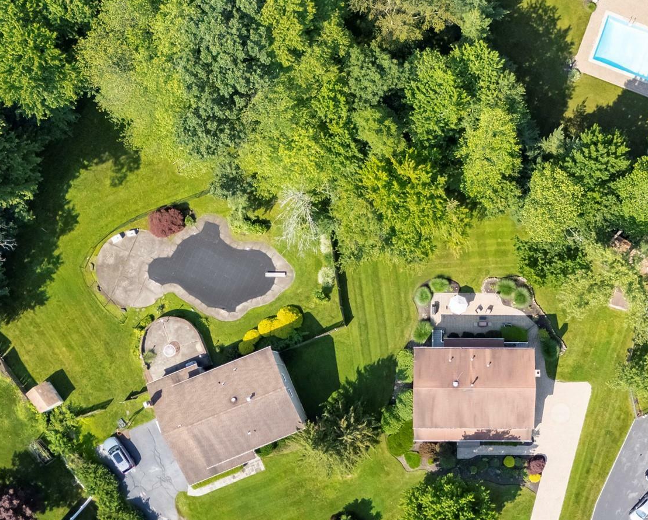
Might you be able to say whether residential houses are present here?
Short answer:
Yes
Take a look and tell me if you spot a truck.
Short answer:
No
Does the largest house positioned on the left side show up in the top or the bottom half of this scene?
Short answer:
bottom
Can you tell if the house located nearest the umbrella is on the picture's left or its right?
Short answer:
right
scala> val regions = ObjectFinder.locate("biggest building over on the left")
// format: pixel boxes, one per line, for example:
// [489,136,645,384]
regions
[140,346,309,486]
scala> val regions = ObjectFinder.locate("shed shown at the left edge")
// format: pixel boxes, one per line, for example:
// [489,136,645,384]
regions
[26,381,71,414]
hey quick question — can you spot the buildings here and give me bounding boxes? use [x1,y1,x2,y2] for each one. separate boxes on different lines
[26,381,71,414]
[413,330,542,448]
[140,346,309,486]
